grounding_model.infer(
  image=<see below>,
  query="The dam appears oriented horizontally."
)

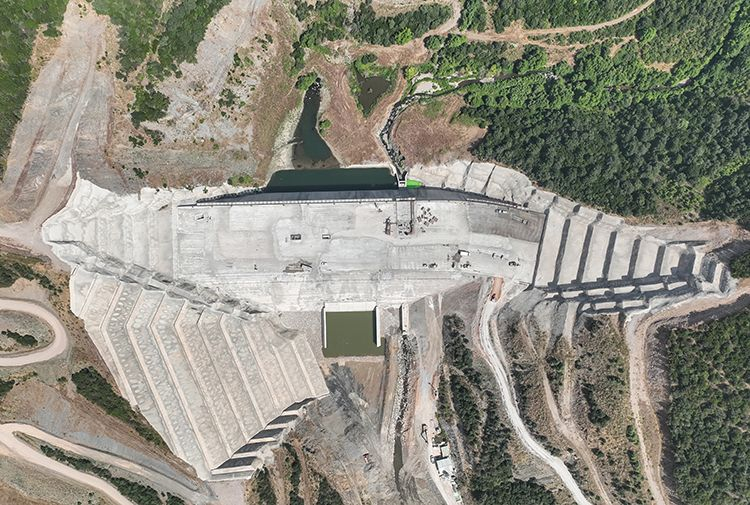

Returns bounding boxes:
[176,185,547,309]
